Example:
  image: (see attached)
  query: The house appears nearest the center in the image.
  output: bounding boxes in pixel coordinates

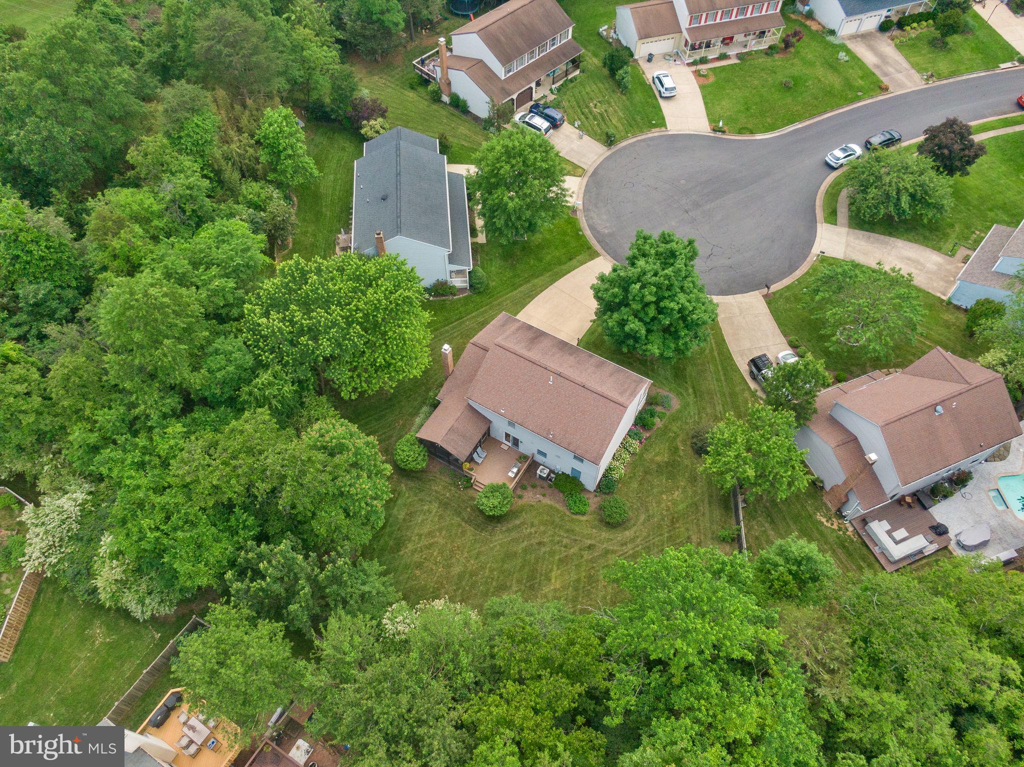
[416,311,654,495]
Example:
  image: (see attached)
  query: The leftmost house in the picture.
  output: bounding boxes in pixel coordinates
[42,714,172,767]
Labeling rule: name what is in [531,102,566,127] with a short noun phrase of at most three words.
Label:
car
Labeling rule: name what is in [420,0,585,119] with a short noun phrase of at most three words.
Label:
house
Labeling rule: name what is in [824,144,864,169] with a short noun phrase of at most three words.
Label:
car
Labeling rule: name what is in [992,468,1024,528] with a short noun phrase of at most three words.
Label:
swimming pool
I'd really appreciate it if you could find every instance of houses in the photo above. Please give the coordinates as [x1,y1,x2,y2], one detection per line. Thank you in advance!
[42,714,172,767]
[617,0,787,60]
[804,0,934,35]
[416,311,654,495]
[784,340,1024,574]
[420,0,585,119]
[345,124,473,293]
[946,218,1024,335]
